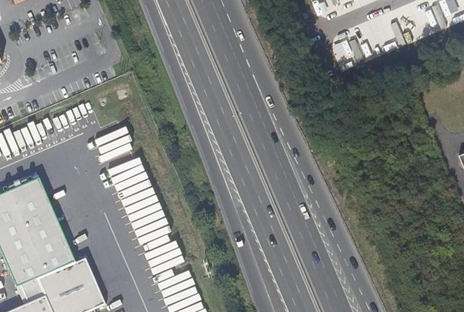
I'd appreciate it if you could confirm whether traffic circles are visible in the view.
No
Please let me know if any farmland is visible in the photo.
No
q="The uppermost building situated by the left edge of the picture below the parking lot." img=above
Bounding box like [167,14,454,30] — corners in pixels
[0,172,76,284]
